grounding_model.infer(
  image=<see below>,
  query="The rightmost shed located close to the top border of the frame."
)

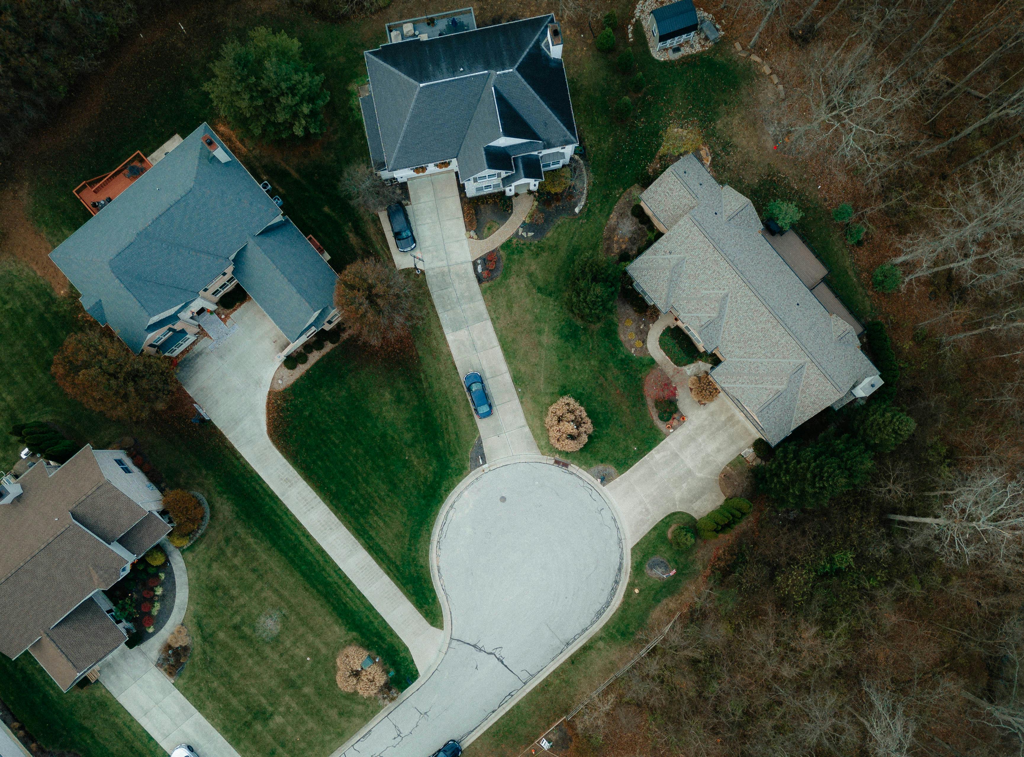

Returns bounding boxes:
[648,0,699,52]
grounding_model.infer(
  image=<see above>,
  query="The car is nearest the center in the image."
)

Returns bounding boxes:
[465,371,493,420]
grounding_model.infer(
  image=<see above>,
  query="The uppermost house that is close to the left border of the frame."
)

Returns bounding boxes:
[47,121,353,362]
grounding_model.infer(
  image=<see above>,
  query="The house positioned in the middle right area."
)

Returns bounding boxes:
[626,153,884,449]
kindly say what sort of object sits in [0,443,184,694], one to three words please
house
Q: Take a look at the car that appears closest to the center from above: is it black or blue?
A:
blue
